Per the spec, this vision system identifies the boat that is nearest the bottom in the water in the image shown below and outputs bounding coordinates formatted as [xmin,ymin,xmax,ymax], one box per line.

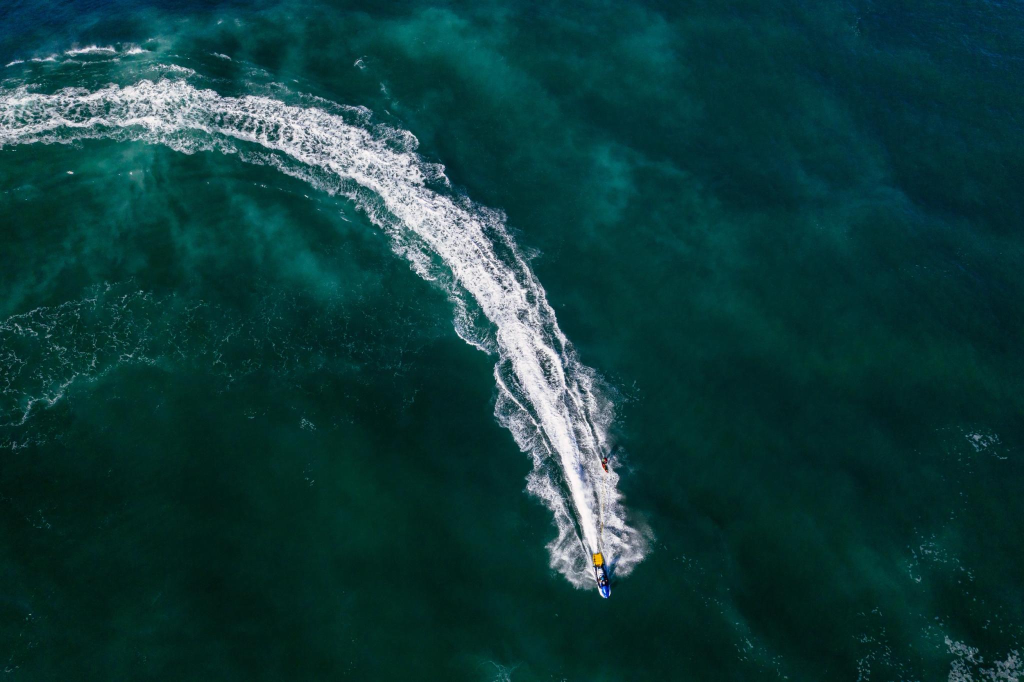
[595,565,609,598]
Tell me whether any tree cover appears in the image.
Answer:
No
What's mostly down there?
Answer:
water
